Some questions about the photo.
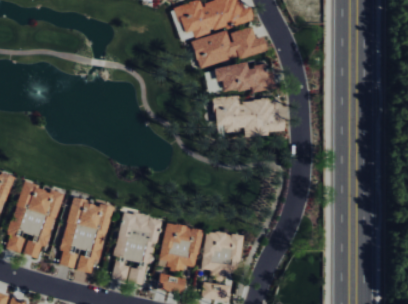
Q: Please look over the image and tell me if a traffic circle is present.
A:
No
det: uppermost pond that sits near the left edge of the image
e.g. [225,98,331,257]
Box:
[0,0,114,67]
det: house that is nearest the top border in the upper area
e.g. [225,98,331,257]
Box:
[174,0,254,38]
